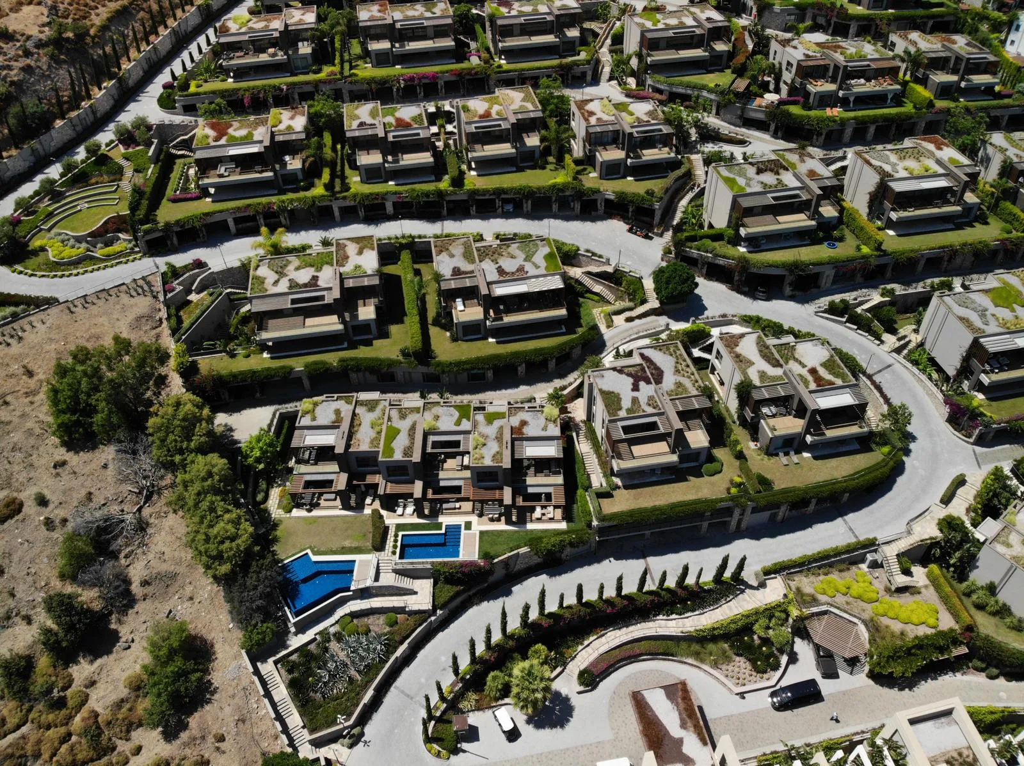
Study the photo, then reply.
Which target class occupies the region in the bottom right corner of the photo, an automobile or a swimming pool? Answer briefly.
automobile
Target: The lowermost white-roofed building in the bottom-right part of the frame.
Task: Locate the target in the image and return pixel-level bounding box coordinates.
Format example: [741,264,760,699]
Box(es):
[870,697,997,766]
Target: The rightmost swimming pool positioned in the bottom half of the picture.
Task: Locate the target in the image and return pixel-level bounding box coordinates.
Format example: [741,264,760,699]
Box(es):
[396,522,479,572]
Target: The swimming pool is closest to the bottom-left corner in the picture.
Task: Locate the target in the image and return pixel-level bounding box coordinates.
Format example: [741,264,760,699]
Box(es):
[281,549,376,627]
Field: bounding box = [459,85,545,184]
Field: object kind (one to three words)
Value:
house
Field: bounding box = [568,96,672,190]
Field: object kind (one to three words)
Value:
house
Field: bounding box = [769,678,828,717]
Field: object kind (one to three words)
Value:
car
